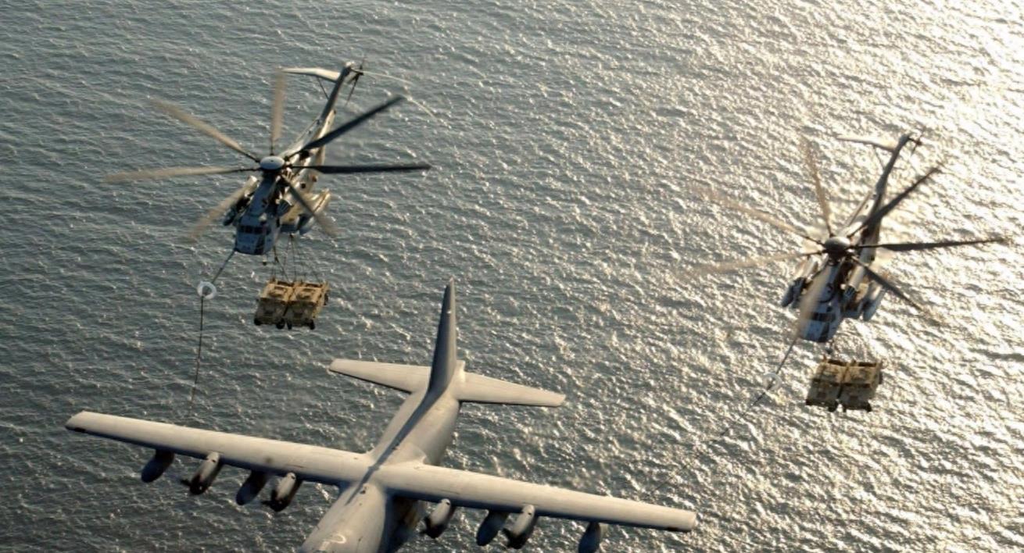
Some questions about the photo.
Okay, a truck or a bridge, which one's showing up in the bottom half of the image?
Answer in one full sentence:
There is a truck in the bottom half of the image.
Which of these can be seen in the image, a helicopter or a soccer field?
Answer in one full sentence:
There is a helicopter in the scene.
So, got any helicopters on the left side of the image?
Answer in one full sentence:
Yes, on the left side of the image there is a helicopter.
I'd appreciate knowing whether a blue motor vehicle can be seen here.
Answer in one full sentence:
No, I can't see a single blue motor vehicle in this photo.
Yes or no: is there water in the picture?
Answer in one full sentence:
Yes, there's water in this view.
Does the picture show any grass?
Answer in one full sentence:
No, the picture contains no grass.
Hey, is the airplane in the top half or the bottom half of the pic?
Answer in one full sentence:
You can find the airplane in the bottom half.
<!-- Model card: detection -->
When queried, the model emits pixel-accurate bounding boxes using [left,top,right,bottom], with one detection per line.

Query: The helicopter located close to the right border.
[678,112,1006,383]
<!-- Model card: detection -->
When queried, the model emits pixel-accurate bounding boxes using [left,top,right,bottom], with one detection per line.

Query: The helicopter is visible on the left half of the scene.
[109,42,434,293]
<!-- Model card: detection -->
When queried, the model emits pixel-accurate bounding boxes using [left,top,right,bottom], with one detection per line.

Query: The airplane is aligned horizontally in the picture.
[68,273,702,553]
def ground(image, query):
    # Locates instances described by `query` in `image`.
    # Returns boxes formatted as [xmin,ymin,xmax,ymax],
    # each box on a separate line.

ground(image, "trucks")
[284,278,329,327]
[837,358,881,410]
[808,355,852,406]
[256,274,299,325]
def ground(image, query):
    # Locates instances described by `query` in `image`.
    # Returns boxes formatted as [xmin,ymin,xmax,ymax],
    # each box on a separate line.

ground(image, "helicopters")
[109,42,434,293]
[678,112,1006,383]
